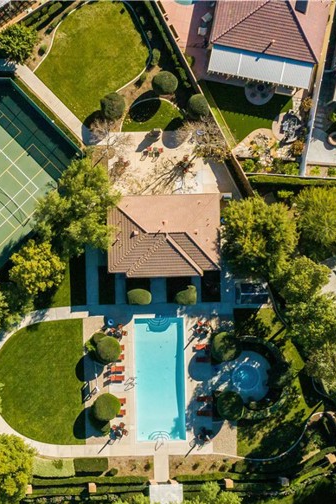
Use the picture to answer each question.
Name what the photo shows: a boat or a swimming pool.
swimming pool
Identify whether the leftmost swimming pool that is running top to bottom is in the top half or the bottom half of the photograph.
bottom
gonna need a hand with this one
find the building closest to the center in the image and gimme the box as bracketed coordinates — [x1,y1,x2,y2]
[107,192,221,277]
